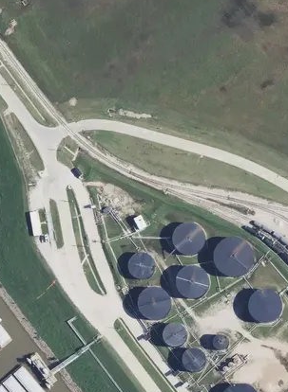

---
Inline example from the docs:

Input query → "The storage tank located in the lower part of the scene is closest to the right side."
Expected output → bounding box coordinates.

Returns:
[248,288,284,323]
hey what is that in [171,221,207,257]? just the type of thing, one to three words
storage tank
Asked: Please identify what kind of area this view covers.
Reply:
industrial area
